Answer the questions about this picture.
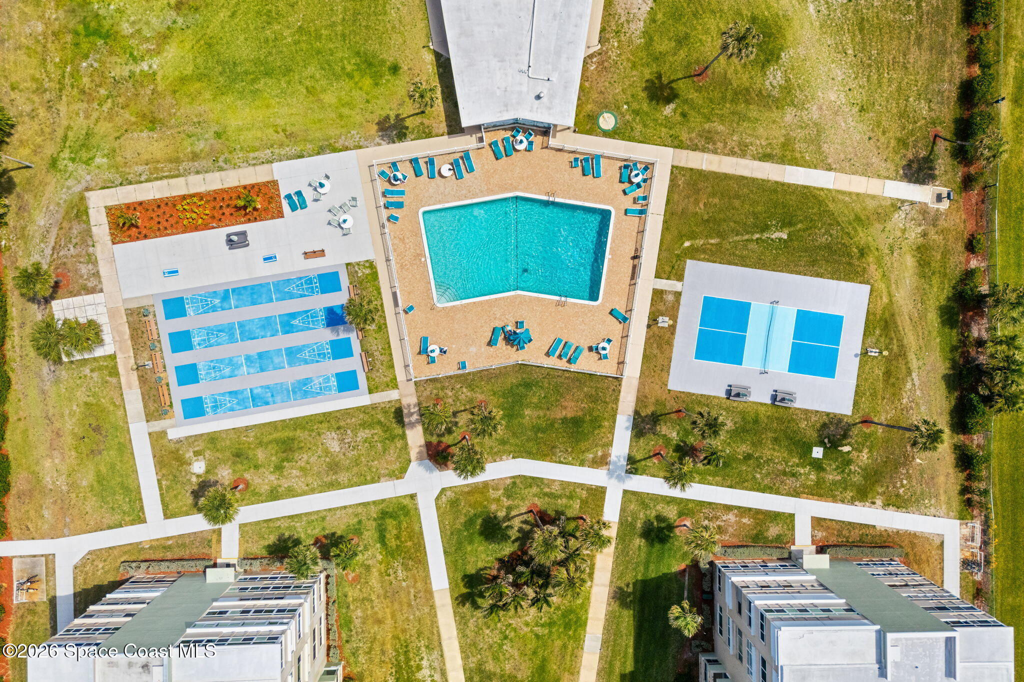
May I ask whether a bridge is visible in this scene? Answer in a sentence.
No, this view has no bridge in it.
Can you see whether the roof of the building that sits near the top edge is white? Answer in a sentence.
Yes, the roof of the building that sits near the top edge is indeed white.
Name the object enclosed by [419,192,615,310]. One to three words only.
swimming pool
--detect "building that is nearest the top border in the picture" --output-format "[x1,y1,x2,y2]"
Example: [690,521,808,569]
[440,0,593,135]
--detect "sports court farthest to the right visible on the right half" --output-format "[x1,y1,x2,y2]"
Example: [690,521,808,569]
[668,260,871,415]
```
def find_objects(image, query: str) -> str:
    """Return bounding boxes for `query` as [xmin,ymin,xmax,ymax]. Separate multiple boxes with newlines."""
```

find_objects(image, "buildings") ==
[693,559,1016,682]
[25,571,345,682]
[440,0,593,135]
